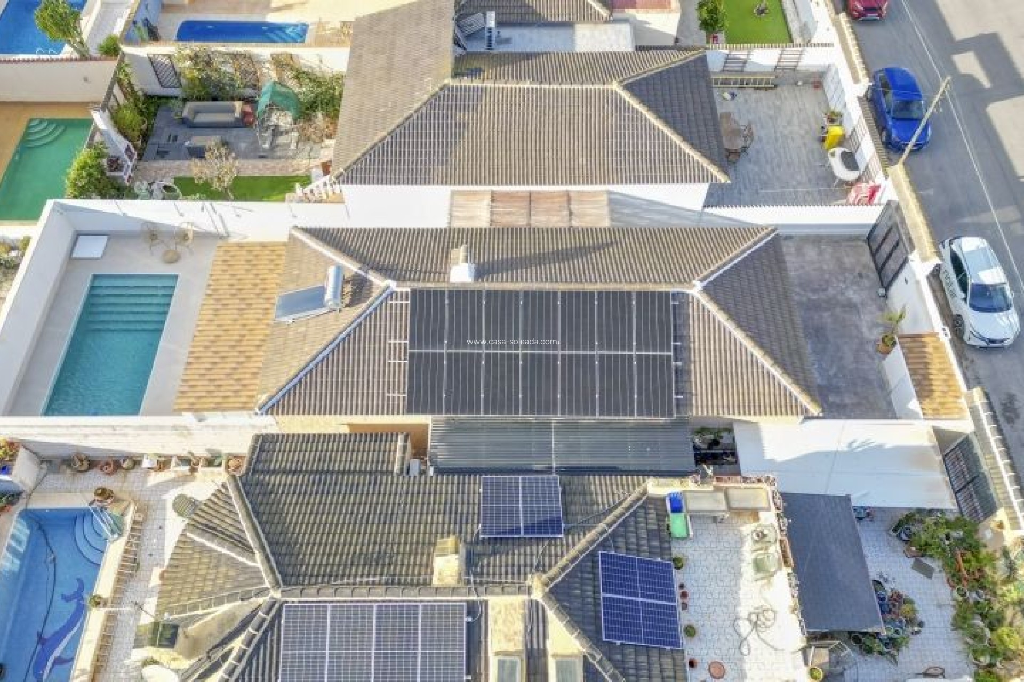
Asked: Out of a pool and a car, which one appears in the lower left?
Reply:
pool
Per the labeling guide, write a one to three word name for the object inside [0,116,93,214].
swimming pool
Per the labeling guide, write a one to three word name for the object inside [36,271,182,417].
swimming pool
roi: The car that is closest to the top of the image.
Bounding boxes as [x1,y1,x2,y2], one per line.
[842,0,885,25]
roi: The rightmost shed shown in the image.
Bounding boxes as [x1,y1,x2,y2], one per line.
[882,332,969,415]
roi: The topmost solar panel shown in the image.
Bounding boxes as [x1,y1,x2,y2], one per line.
[460,13,485,33]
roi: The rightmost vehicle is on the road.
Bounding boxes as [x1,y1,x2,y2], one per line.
[930,242,1017,347]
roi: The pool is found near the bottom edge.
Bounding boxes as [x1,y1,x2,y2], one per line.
[0,502,118,682]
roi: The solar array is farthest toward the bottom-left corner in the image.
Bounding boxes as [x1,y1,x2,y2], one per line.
[274,602,478,682]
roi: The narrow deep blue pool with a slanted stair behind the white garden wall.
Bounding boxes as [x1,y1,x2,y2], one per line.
[165,19,312,46]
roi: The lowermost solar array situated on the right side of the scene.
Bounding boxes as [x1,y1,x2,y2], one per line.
[599,550,682,654]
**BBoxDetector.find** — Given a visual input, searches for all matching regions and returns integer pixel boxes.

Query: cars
[869,79,934,153]
[930,242,1017,347]
[842,0,885,25]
